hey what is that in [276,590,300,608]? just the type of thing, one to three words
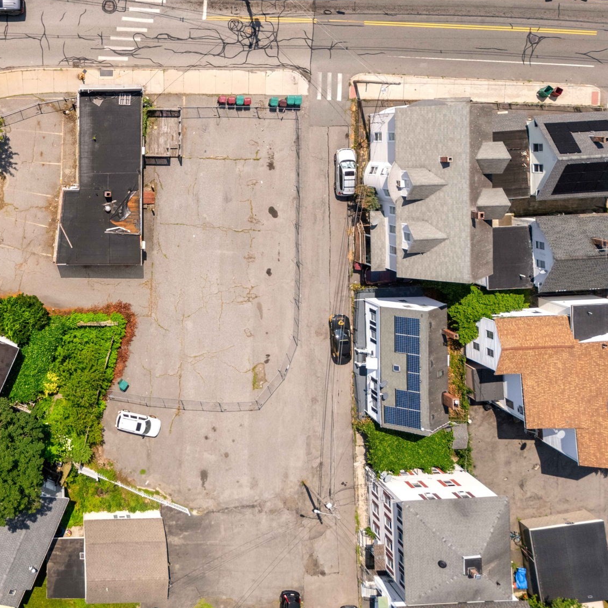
car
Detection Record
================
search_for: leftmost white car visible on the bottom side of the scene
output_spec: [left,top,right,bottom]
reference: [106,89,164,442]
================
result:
[113,408,163,440]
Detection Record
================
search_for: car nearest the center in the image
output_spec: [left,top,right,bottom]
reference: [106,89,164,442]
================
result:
[327,312,354,365]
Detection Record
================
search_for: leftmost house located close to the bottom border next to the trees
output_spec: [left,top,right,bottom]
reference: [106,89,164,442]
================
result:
[0,474,70,606]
